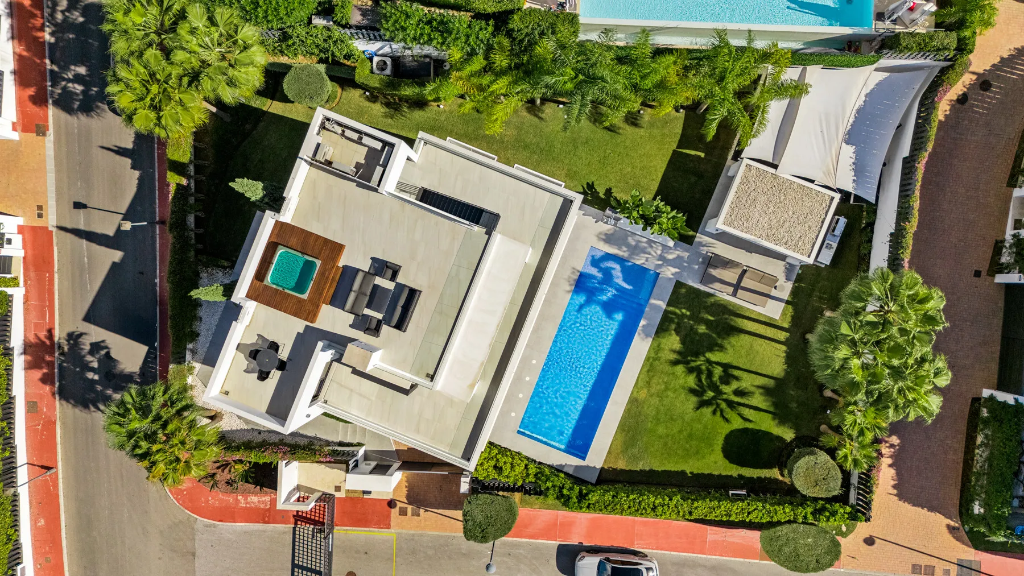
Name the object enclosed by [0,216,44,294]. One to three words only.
building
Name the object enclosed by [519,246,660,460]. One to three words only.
swimming pool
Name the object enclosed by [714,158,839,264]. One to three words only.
building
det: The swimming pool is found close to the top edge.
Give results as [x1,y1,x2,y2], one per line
[575,0,877,53]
